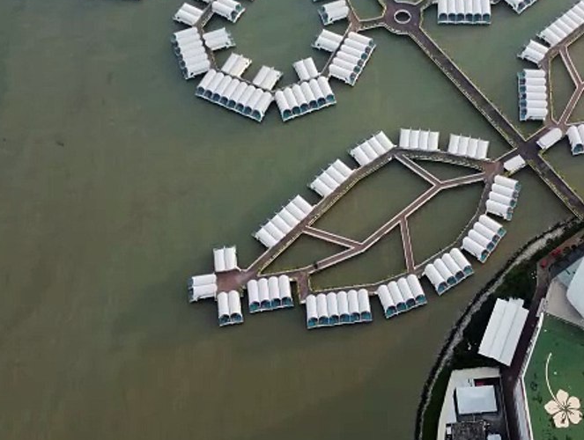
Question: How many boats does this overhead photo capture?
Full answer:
There are no boats in this view.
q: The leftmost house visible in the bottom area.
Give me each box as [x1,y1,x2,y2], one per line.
[187,275,218,301]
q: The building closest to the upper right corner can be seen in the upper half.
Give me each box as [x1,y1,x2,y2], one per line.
[536,0,584,49]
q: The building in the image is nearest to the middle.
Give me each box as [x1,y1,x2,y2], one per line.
[250,193,314,253]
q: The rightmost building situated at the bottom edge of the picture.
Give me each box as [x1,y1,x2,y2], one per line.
[515,312,584,440]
